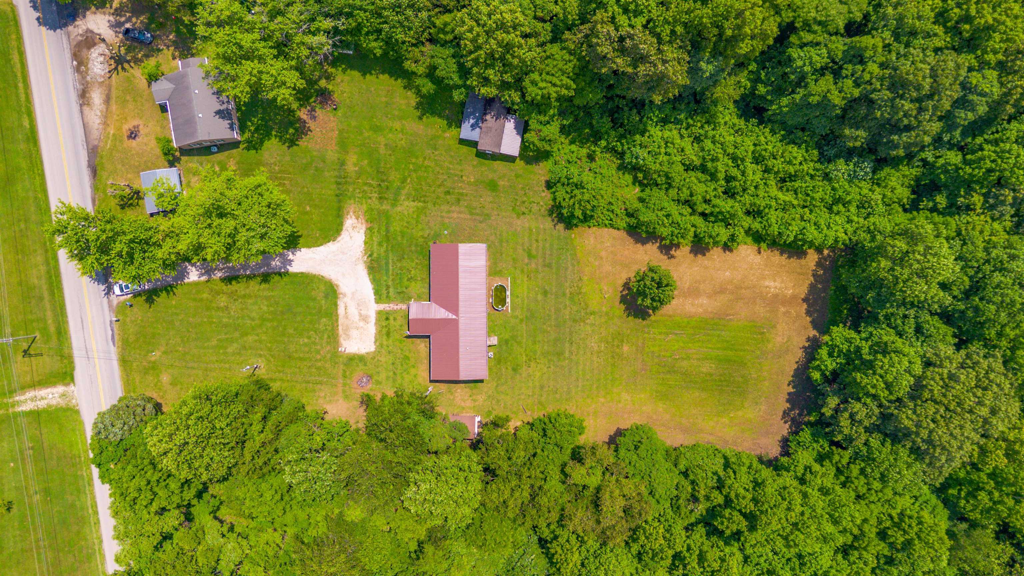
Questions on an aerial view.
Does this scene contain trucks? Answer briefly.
No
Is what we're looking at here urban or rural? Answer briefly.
rural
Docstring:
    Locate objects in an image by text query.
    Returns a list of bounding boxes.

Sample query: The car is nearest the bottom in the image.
[112,279,145,296]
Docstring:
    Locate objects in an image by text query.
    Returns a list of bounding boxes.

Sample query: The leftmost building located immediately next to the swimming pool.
[408,242,487,382]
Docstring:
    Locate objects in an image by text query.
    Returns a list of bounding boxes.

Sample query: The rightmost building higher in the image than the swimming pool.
[460,93,523,158]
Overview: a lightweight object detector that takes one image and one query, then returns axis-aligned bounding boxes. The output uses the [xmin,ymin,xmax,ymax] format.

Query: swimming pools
[490,283,509,311]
